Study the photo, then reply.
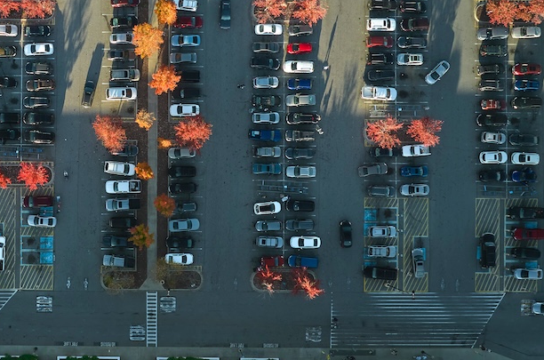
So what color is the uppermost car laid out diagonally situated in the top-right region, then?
blue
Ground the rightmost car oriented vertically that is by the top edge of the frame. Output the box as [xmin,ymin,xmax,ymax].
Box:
[218,0,231,29]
